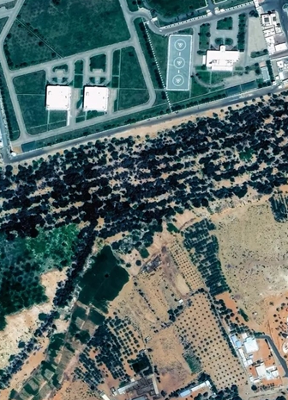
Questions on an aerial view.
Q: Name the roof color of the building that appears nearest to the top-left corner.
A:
white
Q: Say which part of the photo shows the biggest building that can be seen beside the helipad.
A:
top right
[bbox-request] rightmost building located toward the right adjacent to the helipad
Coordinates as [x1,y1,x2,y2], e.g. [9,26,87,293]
[207,50,240,70]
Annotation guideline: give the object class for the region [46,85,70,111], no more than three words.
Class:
building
